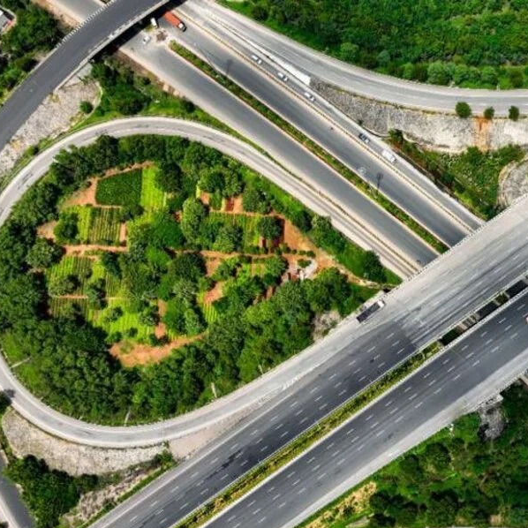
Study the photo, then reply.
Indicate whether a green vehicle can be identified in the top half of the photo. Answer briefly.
No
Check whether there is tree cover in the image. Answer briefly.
Yes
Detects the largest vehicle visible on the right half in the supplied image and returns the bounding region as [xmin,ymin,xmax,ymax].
[357,300,382,320]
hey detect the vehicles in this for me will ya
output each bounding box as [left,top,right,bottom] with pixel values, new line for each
[158,6,185,29]
[303,91,315,100]
[149,14,158,27]
[276,71,288,81]
[357,300,382,320]
[358,133,370,143]
[381,147,395,160]
[251,54,262,64]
